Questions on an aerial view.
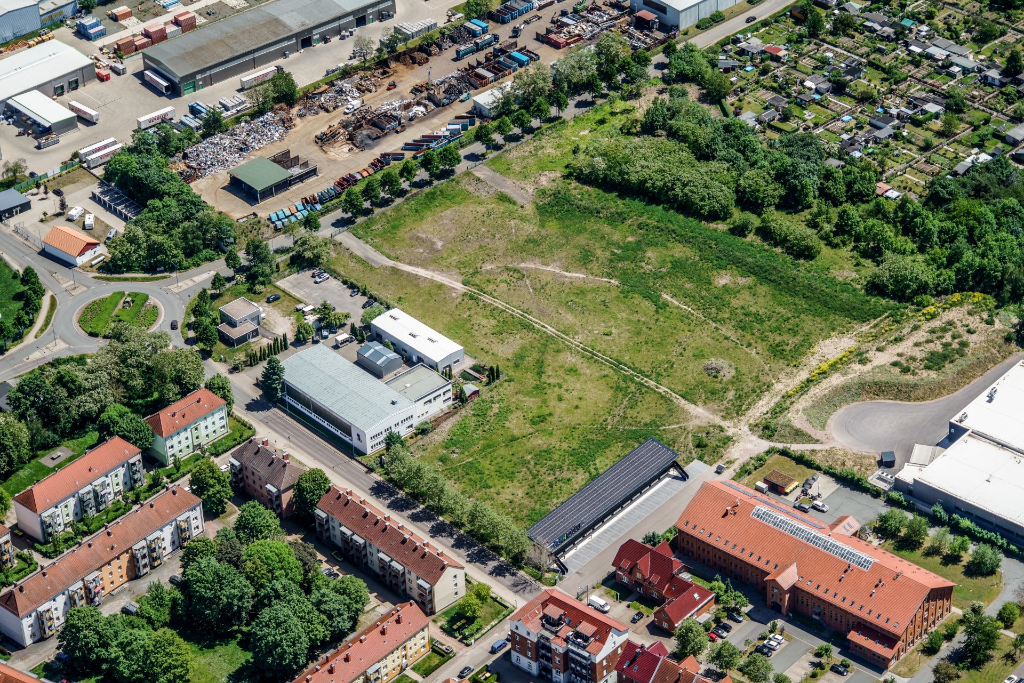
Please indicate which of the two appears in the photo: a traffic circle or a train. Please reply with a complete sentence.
There is a traffic circle in the scene.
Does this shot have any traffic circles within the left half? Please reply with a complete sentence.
Yes, the scene does show a traffic circle within the left half.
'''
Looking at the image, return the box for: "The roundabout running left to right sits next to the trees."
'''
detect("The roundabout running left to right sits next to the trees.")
[51,281,184,353]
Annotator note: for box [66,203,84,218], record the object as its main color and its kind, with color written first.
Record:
white camper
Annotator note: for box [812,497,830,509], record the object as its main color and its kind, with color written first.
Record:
white vehicle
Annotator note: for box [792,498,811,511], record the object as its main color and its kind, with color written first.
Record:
gray vehicle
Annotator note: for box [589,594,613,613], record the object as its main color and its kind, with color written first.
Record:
white vehicle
